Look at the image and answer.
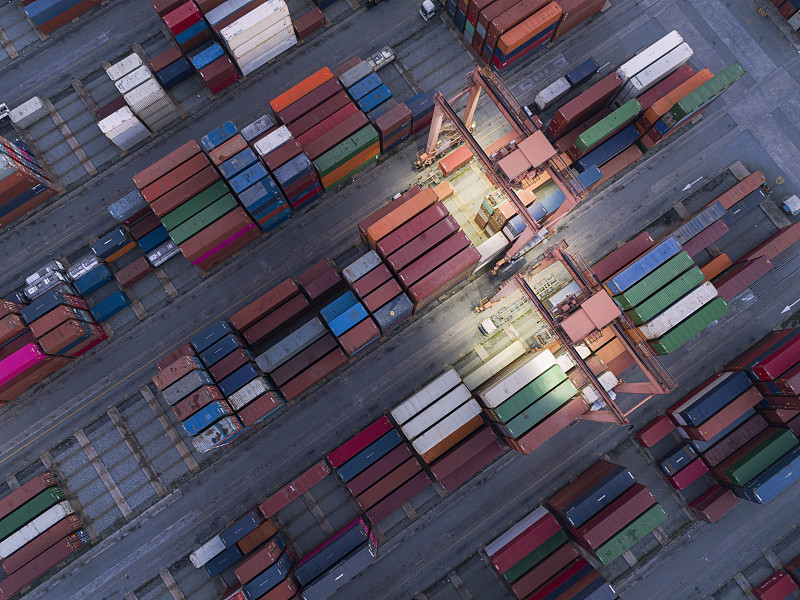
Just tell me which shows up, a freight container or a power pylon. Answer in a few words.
freight container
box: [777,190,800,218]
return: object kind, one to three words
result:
truck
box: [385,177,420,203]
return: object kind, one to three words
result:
truck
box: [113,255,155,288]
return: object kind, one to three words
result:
shipping container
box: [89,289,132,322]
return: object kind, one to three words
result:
shipping container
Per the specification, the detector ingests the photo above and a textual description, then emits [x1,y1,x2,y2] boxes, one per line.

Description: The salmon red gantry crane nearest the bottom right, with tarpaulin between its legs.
[471,235,680,435]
